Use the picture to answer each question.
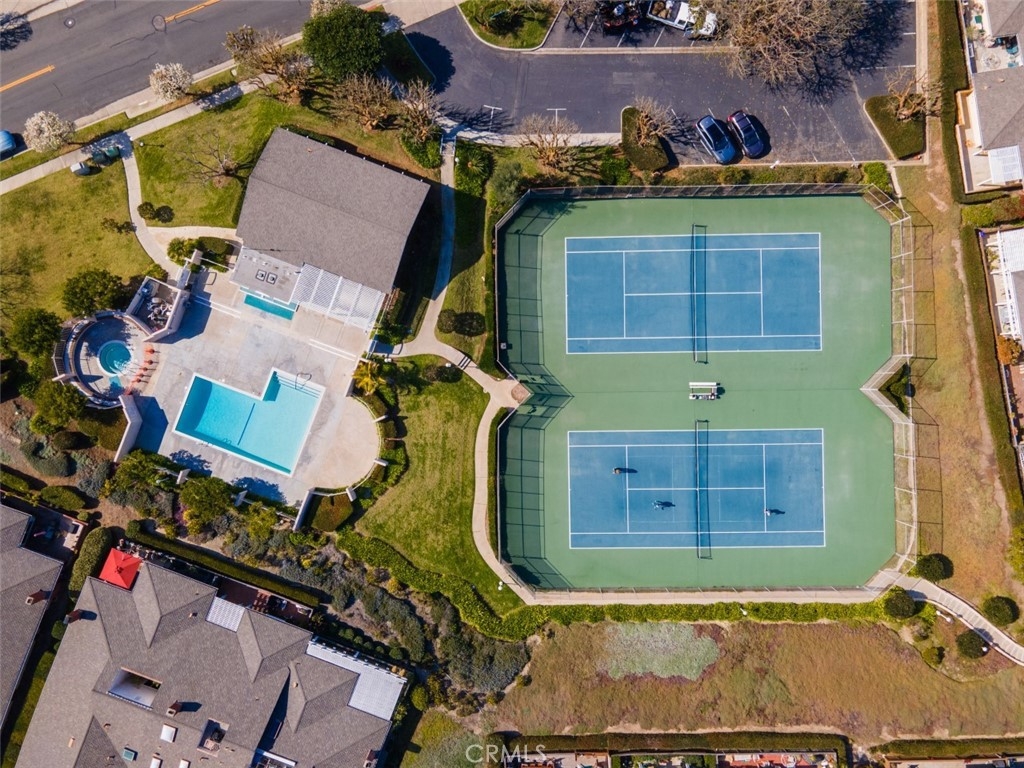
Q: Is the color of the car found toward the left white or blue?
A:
blue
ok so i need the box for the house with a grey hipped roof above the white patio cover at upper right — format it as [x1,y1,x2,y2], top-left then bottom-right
[962,67,1024,152]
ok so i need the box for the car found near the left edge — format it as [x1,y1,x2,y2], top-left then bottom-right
[0,132,20,158]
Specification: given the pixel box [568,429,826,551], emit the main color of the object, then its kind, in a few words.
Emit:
blue tennis court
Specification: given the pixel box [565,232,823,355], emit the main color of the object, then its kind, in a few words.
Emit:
blue tennis court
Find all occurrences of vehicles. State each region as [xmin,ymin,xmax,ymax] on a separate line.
[601,0,662,29]
[0,132,20,158]
[656,0,716,38]
[696,113,734,166]
[728,109,762,161]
